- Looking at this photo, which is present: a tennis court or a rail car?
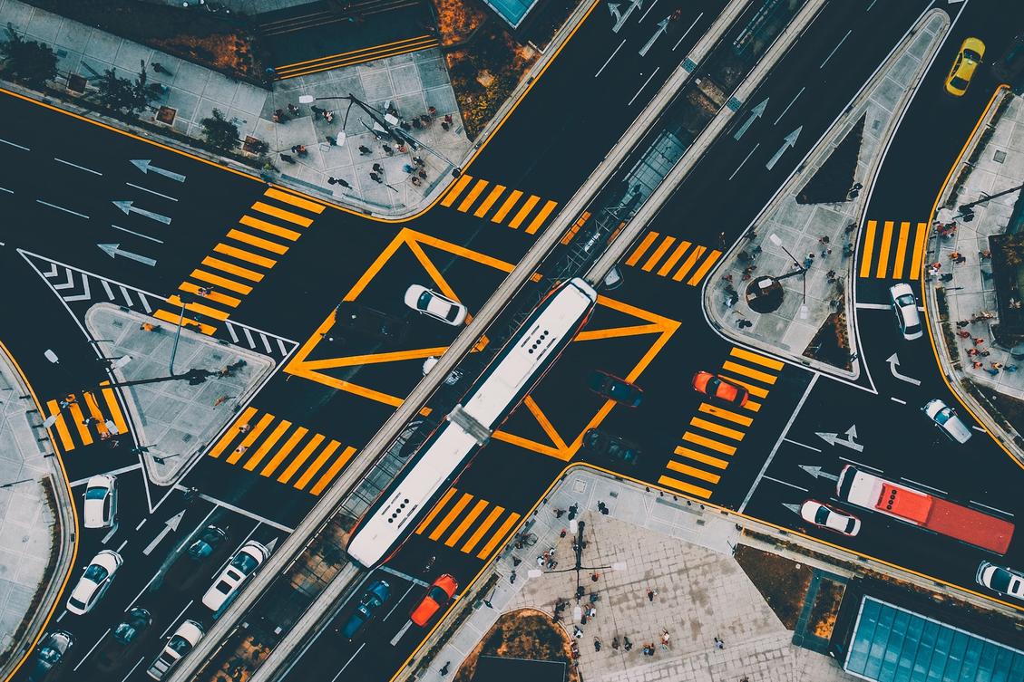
rail car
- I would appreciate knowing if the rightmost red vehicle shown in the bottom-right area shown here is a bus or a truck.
bus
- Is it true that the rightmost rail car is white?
Yes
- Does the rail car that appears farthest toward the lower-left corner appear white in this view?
Yes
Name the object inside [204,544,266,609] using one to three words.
van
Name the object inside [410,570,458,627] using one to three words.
car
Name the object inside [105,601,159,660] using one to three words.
car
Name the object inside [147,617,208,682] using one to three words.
truck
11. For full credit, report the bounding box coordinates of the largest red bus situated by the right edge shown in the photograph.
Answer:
[839,471,1017,559]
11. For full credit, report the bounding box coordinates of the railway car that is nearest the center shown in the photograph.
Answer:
[458,280,600,437]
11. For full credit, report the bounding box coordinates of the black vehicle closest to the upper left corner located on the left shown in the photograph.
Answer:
[338,300,406,342]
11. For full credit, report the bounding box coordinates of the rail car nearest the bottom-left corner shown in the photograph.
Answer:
[346,415,494,572]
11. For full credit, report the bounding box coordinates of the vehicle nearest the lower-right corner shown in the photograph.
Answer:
[974,560,1024,600]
